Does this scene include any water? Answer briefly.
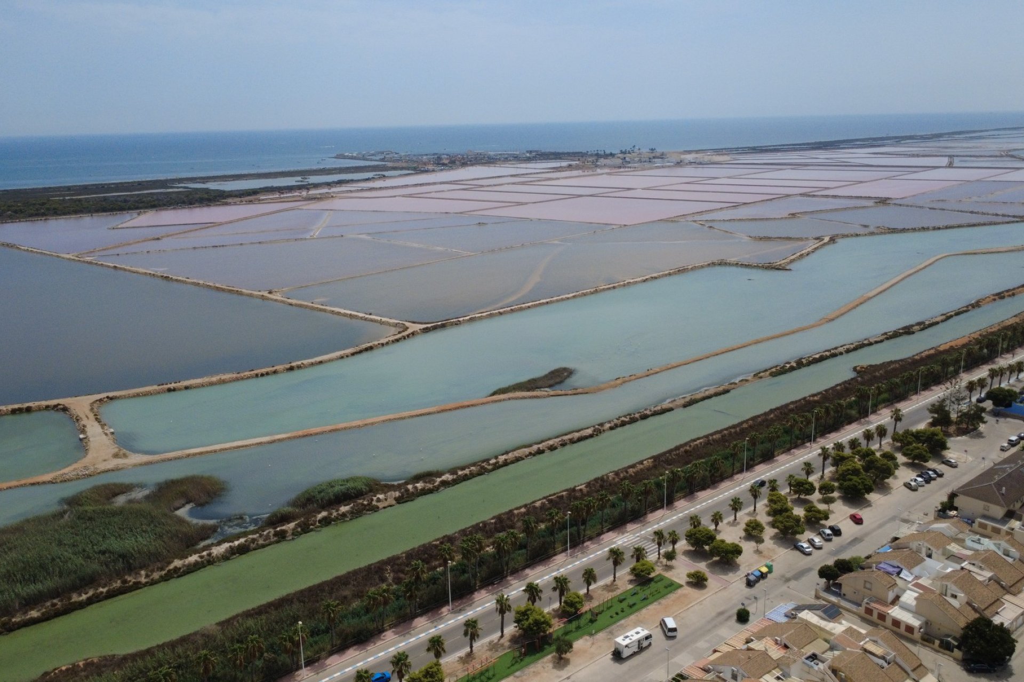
Yes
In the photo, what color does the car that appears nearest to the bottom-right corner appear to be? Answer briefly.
black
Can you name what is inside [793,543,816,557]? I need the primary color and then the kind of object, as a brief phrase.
gray car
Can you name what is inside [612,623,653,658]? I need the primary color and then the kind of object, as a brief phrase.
white camper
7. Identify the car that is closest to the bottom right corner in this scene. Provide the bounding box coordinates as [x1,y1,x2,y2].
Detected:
[961,659,996,681]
